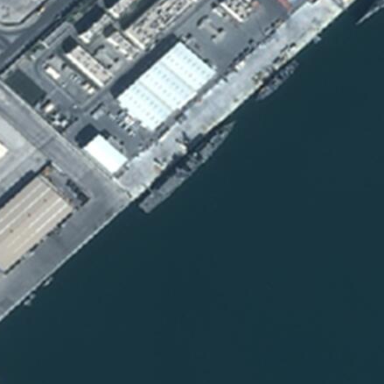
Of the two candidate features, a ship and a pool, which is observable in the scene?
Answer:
ship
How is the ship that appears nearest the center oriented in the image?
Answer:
at an angle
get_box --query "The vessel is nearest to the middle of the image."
[139,120,236,214]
